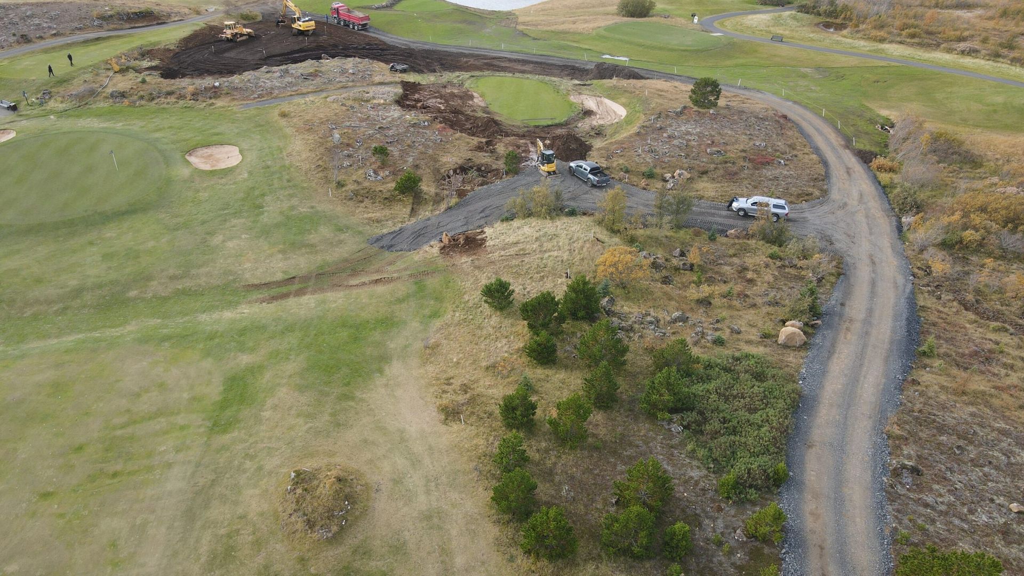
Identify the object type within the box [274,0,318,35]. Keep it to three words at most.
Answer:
work vehicle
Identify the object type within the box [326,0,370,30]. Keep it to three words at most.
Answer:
truck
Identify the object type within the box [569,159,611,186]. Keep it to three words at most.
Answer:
truck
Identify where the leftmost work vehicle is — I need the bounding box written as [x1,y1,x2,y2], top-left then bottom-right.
[217,18,256,40]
